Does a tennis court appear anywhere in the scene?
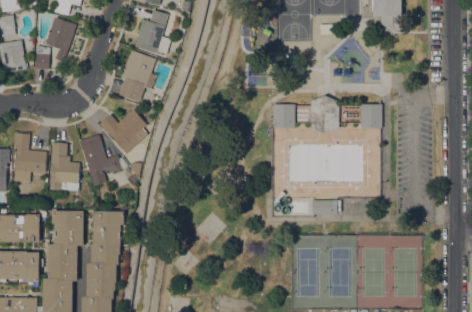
Yes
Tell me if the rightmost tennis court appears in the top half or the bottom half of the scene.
bottom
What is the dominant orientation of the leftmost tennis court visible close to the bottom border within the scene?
vertically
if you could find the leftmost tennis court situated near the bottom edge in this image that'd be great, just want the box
[294,235,326,308]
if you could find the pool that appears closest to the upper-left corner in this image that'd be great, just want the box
[20,16,32,38]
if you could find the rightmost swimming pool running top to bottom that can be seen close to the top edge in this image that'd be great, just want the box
[40,14,52,39]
